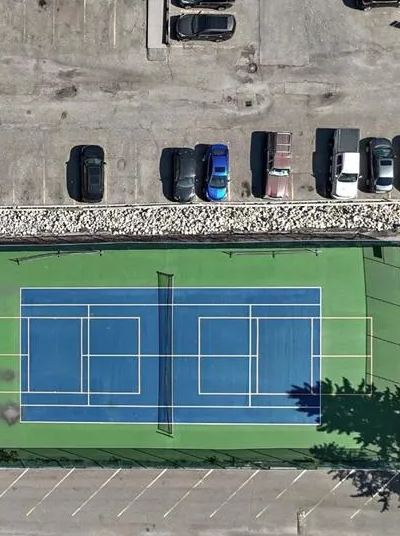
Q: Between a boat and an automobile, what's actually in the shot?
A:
automobile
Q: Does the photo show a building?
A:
No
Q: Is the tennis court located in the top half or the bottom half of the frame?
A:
bottom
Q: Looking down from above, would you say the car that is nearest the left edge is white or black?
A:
black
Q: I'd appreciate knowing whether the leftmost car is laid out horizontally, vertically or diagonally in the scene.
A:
vertically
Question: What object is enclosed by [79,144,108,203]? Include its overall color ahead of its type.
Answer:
black car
